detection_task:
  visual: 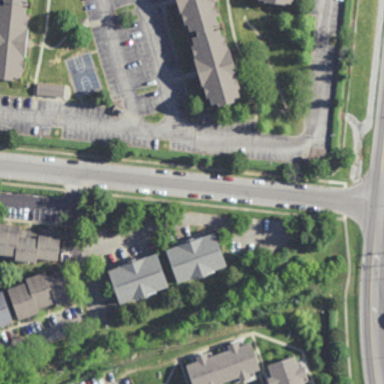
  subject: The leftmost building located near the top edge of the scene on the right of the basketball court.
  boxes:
[177,0,240,110]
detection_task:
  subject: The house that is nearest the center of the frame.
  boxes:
[168,235,225,282]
